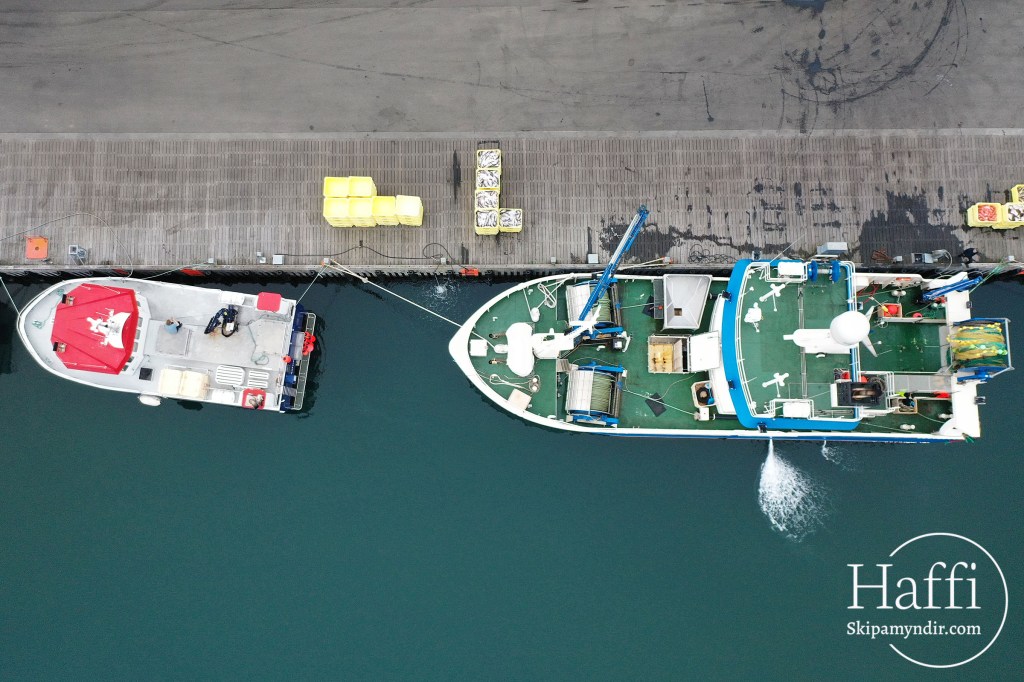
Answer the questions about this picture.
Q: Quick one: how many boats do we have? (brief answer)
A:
2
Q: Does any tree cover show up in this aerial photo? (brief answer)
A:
No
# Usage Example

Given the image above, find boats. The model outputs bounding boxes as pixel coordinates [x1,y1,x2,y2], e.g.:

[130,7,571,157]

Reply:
[16,275,317,413]
[448,199,1015,441]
